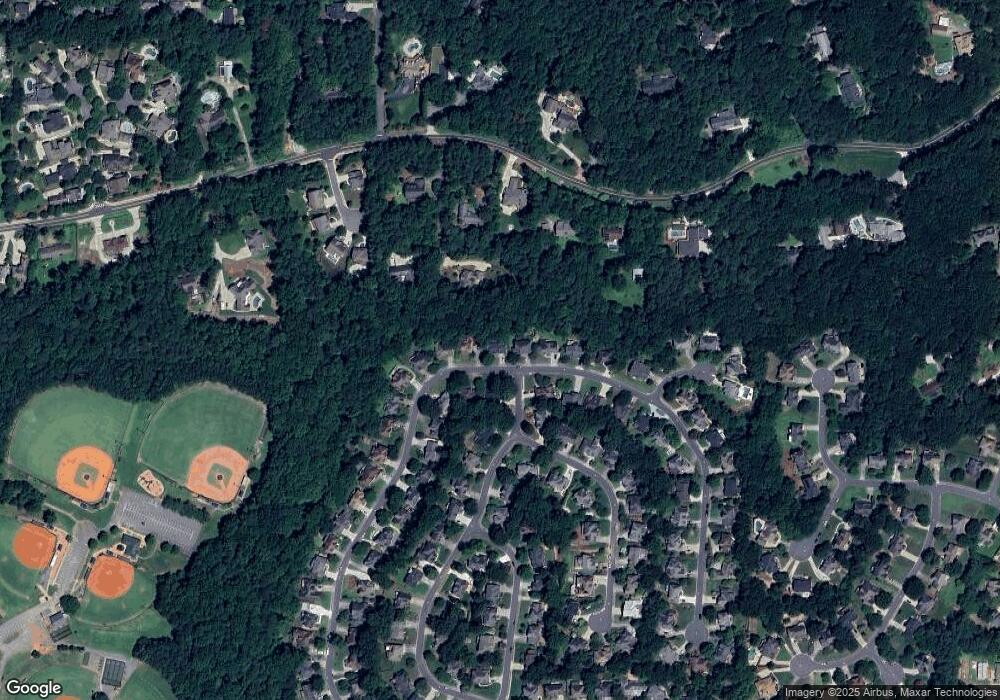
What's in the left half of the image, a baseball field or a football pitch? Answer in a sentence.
Visible in the left half of the image is a baseball field.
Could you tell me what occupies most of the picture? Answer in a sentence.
Most of the picture is covered by trees.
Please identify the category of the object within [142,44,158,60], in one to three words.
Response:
swimming pool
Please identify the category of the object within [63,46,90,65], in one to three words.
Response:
house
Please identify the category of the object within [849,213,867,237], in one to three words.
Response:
swimming pool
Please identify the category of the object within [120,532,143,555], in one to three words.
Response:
building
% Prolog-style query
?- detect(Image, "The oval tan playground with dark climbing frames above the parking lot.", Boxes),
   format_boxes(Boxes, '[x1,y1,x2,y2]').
[138,470,164,498]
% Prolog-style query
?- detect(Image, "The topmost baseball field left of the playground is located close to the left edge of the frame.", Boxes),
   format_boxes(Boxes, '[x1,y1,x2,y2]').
[8,386,131,510]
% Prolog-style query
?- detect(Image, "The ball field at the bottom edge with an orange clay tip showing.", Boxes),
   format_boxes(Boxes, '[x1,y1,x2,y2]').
[1,664,100,700]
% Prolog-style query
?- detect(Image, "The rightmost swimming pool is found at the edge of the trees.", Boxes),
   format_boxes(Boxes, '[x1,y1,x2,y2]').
[935,62,953,76]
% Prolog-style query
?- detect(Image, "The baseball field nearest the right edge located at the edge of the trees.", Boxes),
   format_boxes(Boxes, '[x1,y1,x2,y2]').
[139,384,267,509]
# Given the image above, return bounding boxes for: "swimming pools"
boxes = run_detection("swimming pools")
[753,518,766,533]
[24,77,35,93]
[142,44,158,60]
[120,121,134,134]
[669,227,688,239]
[737,385,754,400]
[17,119,29,133]
[489,63,507,85]
[165,130,177,141]
[20,183,34,191]
[404,37,422,56]
[252,294,264,308]
[201,90,221,107]
[849,213,867,237]
[935,62,953,76]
